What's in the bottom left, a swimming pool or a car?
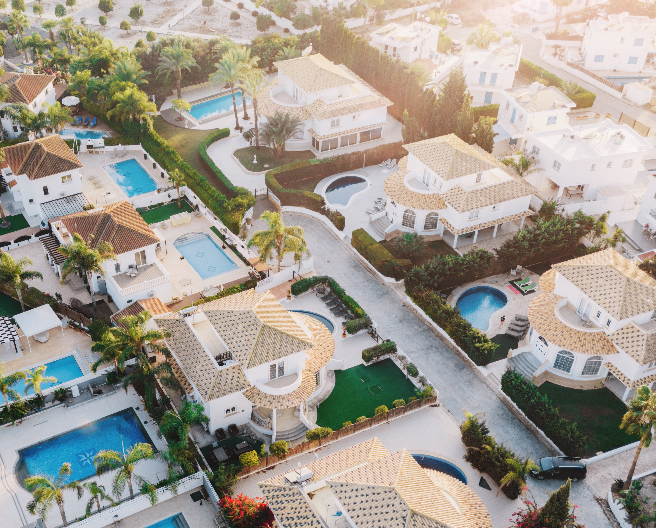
swimming pool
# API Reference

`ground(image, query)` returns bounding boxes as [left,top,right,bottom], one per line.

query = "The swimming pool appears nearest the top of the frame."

[603,74,654,87]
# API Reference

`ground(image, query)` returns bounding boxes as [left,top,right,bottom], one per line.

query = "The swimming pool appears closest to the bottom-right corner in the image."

[415,451,476,490]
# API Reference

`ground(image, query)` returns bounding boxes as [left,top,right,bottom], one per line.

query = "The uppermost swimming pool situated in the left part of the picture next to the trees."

[187,89,257,123]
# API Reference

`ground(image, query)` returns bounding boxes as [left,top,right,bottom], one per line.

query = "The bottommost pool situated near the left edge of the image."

[14,407,153,495]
